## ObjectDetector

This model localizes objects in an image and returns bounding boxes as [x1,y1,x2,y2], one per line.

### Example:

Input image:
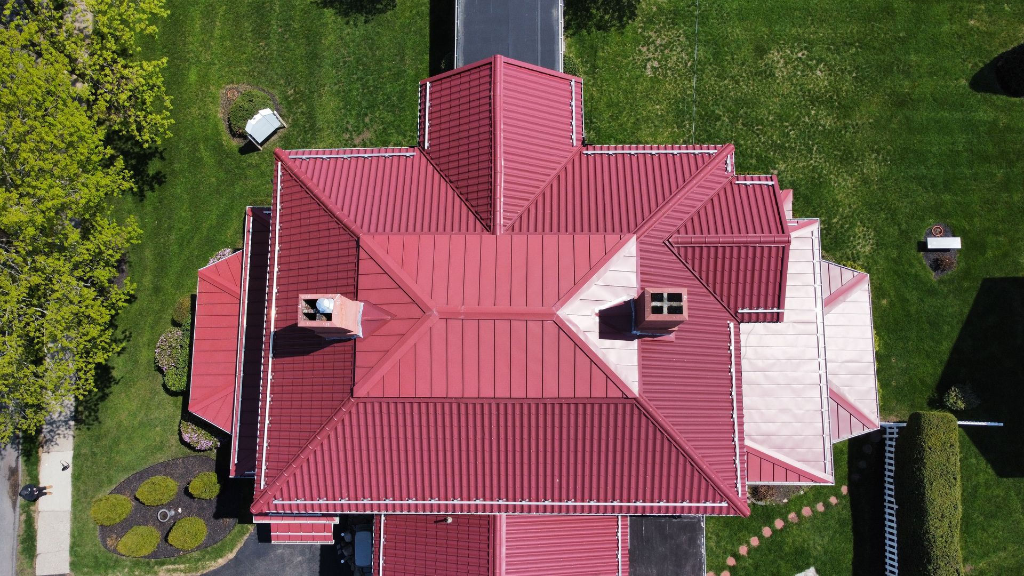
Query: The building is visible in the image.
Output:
[186,0,880,576]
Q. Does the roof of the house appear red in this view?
Yes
